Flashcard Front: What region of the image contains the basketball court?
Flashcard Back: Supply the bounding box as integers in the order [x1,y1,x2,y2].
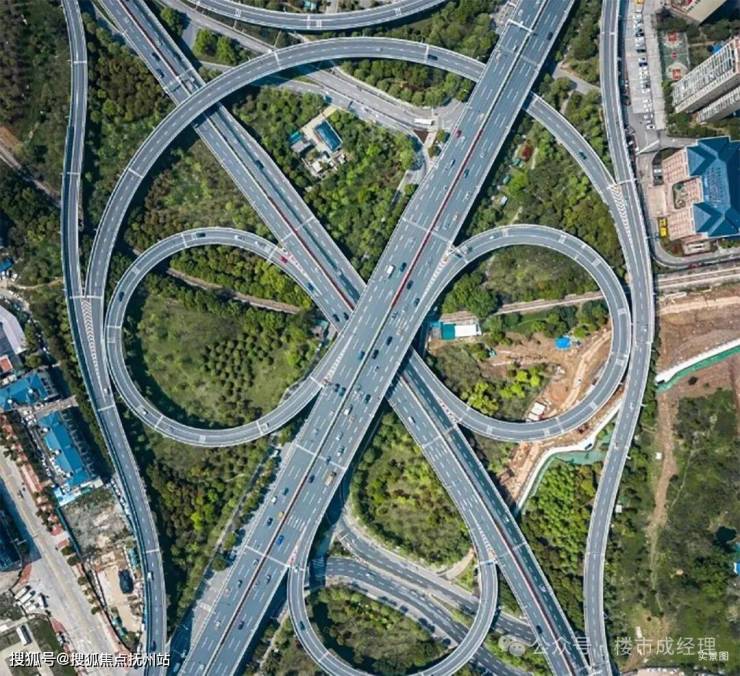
[659,27,690,83]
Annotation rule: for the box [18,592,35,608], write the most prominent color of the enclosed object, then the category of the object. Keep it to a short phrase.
white vehicle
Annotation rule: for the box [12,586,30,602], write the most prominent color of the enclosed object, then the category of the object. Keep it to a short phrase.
white vehicle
